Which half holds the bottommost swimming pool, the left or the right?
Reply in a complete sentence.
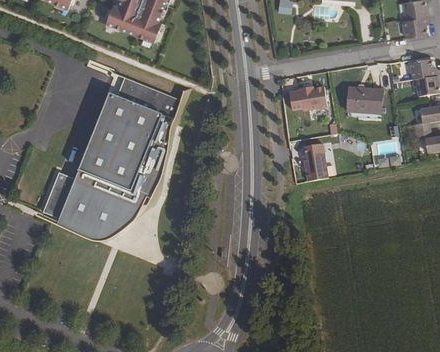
The bottommost swimming pool is on the right side of the image.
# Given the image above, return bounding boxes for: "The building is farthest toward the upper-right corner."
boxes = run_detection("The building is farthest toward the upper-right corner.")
[400,0,432,40]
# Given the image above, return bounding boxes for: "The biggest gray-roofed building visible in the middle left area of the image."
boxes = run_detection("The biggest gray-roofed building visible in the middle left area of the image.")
[44,74,178,240]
